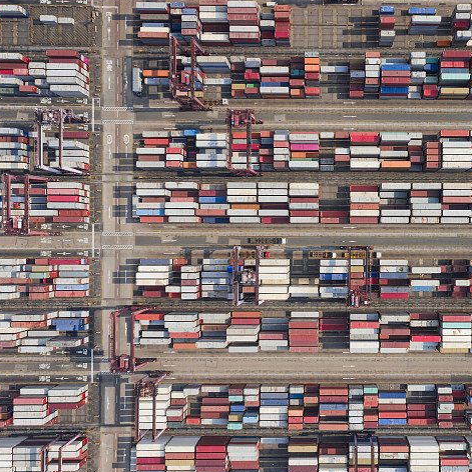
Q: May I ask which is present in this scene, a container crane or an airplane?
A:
container crane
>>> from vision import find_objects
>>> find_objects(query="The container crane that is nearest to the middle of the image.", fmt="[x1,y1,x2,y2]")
[232,243,272,308]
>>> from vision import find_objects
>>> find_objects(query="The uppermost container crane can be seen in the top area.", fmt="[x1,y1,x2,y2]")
[170,31,215,109]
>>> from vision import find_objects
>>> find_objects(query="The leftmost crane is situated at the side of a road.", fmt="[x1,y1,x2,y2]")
[2,169,63,234]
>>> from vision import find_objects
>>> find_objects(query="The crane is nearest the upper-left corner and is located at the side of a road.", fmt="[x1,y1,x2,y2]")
[37,105,94,177]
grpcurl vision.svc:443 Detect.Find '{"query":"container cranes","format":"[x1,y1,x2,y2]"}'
[226,106,263,177]
[2,169,63,234]
[41,428,92,472]
[347,429,375,472]
[342,244,371,308]
[170,31,215,109]
[232,243,272,308]
[109,302,159,371]
[37,105,94,177]
[134,370,178,445]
